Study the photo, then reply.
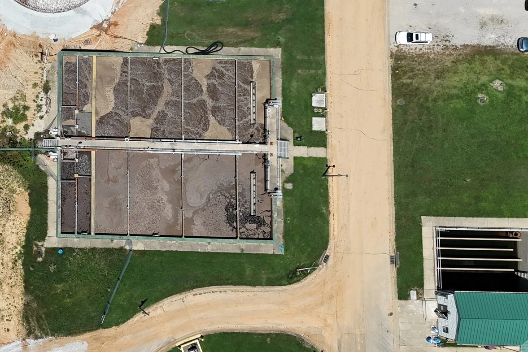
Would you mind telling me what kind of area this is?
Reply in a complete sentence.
What you see here is an industrial area.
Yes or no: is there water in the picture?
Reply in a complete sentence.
Yes, there is water in the image.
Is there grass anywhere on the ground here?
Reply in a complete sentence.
Yes, the picture does contain grass.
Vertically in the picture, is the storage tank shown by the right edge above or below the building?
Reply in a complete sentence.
Looking at the photo, you'll find the storage tank shown by the right edge above the building.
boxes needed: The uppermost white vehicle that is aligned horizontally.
[397,27,436,45]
